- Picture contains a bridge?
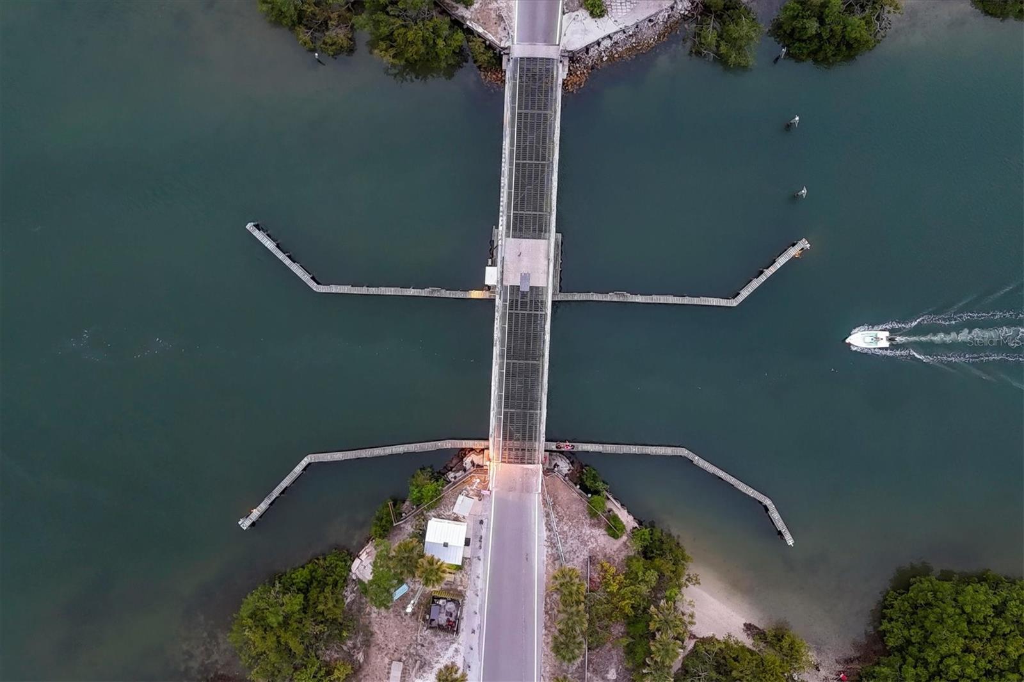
Yes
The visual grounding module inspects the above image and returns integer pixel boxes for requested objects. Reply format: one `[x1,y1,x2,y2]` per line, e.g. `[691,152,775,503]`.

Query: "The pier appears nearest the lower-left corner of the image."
[239,438,488,527]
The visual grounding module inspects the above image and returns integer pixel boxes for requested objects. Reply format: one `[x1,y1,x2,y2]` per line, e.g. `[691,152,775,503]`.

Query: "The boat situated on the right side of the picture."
[846,332,895,347]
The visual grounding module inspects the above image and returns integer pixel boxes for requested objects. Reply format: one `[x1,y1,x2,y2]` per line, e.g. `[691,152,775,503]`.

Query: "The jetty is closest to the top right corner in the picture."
[554,240,808,306]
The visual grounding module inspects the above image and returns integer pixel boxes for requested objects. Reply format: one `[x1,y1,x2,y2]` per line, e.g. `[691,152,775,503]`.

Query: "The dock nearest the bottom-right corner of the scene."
[547,441,794,546]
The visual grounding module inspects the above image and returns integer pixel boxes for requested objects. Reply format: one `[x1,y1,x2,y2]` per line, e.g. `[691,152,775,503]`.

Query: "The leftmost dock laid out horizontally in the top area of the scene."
[248,223,494,300]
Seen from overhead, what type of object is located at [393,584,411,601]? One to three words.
boat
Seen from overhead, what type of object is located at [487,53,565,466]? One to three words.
bridge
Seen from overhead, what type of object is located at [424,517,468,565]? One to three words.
house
